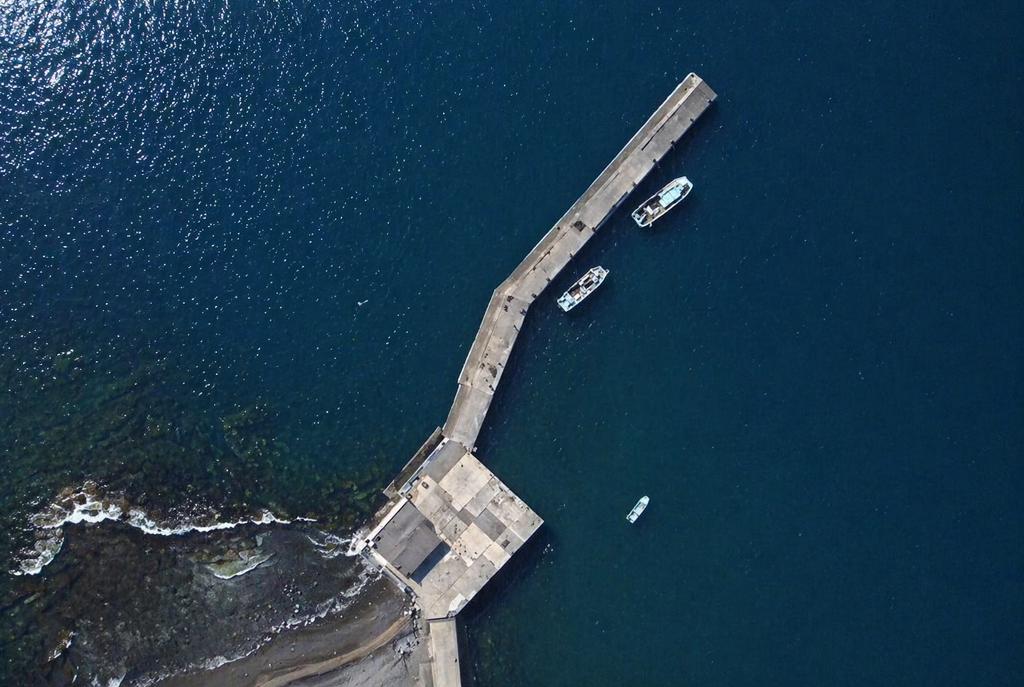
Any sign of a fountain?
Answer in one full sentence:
No, no fountain can be seen from above.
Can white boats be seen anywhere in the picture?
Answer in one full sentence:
Yes, this view includes a white boat.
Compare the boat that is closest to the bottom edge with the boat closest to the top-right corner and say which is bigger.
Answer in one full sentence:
It is the boat closest to the top-right corner that is larger, not the boat that is closest to the bottom edge.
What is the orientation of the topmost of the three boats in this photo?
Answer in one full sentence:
In this picture, the topmost of the three boats lies at an angle.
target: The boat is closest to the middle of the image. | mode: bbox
[557,265,610,312]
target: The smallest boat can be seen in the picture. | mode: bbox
[626,496,650,523]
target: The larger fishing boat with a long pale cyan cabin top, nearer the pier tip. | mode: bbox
[632,175,694,227]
